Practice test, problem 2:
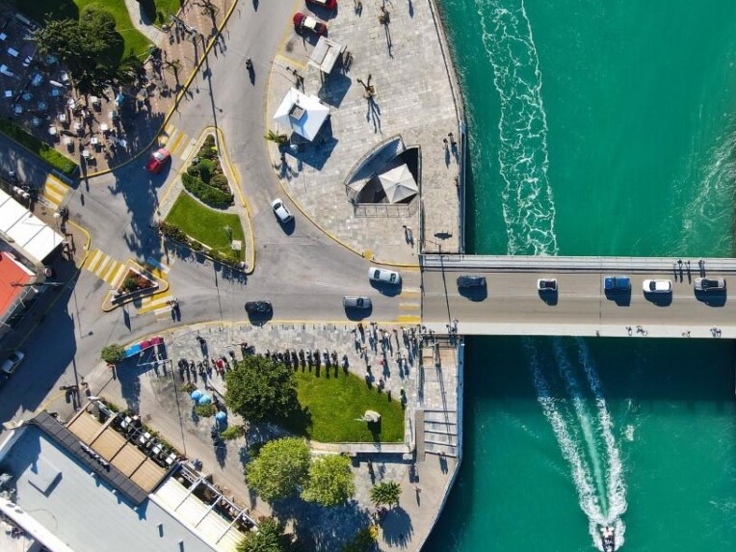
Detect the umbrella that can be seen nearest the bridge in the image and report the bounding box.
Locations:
[384,167,419,204]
